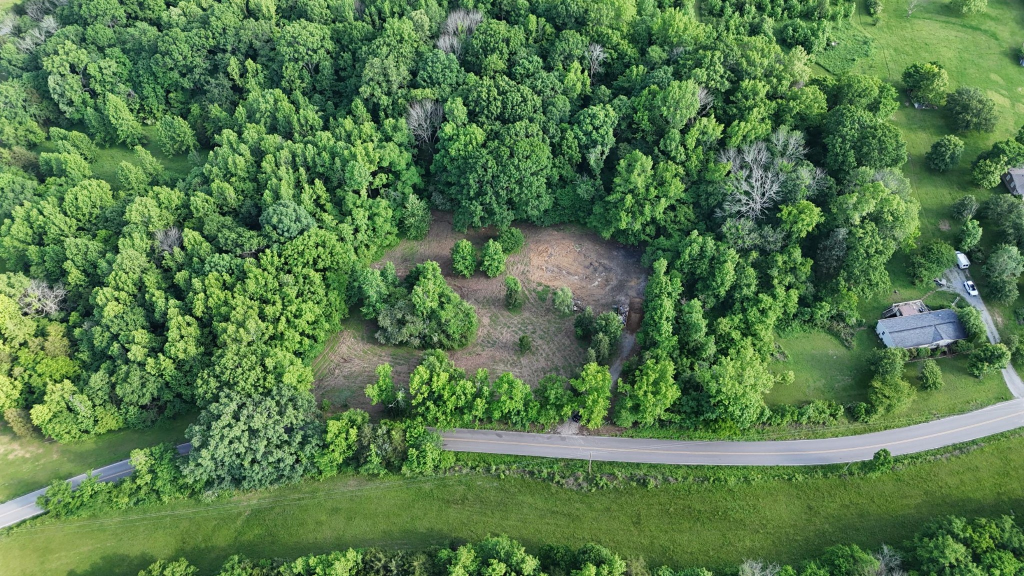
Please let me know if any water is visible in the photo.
No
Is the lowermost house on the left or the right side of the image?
right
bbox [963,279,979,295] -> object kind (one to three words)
car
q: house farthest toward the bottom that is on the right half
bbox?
[876,308,968,360]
